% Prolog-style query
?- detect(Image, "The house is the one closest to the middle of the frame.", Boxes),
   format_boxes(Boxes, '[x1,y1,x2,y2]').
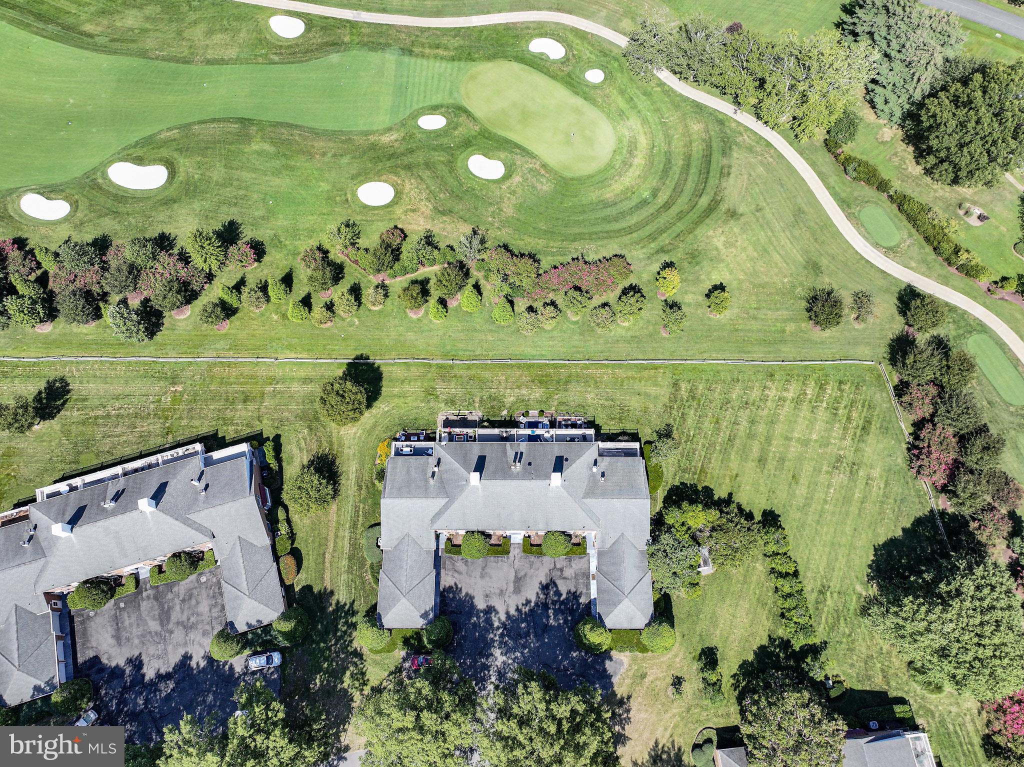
[377,428,655,628]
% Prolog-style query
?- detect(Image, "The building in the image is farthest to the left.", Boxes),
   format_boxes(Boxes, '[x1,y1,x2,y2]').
[0,442,289,708]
